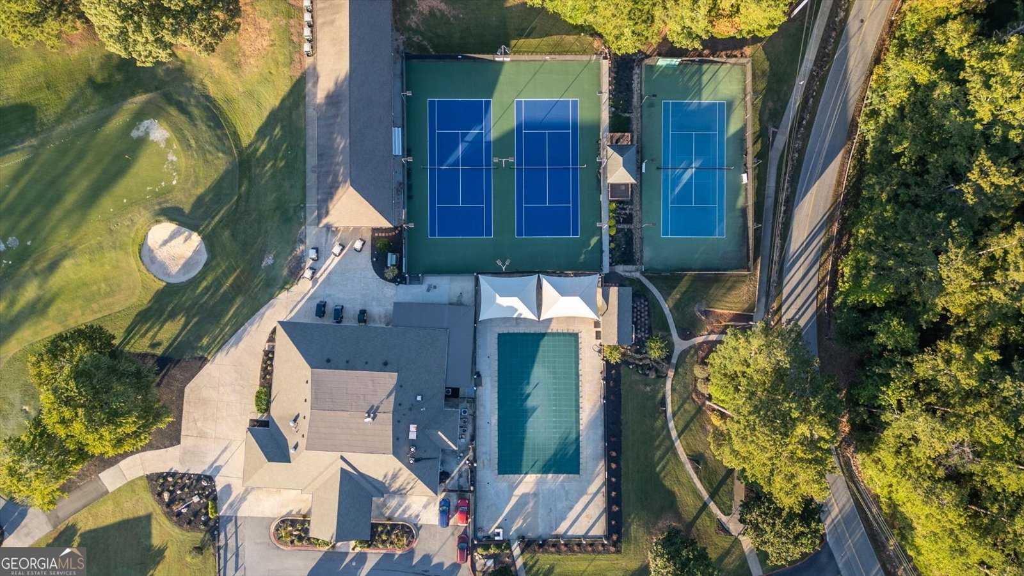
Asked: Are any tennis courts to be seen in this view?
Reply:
Yes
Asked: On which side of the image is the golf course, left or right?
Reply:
left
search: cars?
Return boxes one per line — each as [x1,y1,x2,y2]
[437,499,450,530]
[456,499,469,528]
[455,536,468,566]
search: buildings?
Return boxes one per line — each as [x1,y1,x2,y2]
[606,144,636,183]
[601,286,635,345]
[242,321,460,543]
[317,0,393,227]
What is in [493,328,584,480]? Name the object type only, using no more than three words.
swimming pool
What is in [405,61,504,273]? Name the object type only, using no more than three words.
tennis court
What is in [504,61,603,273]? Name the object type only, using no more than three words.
tennis court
